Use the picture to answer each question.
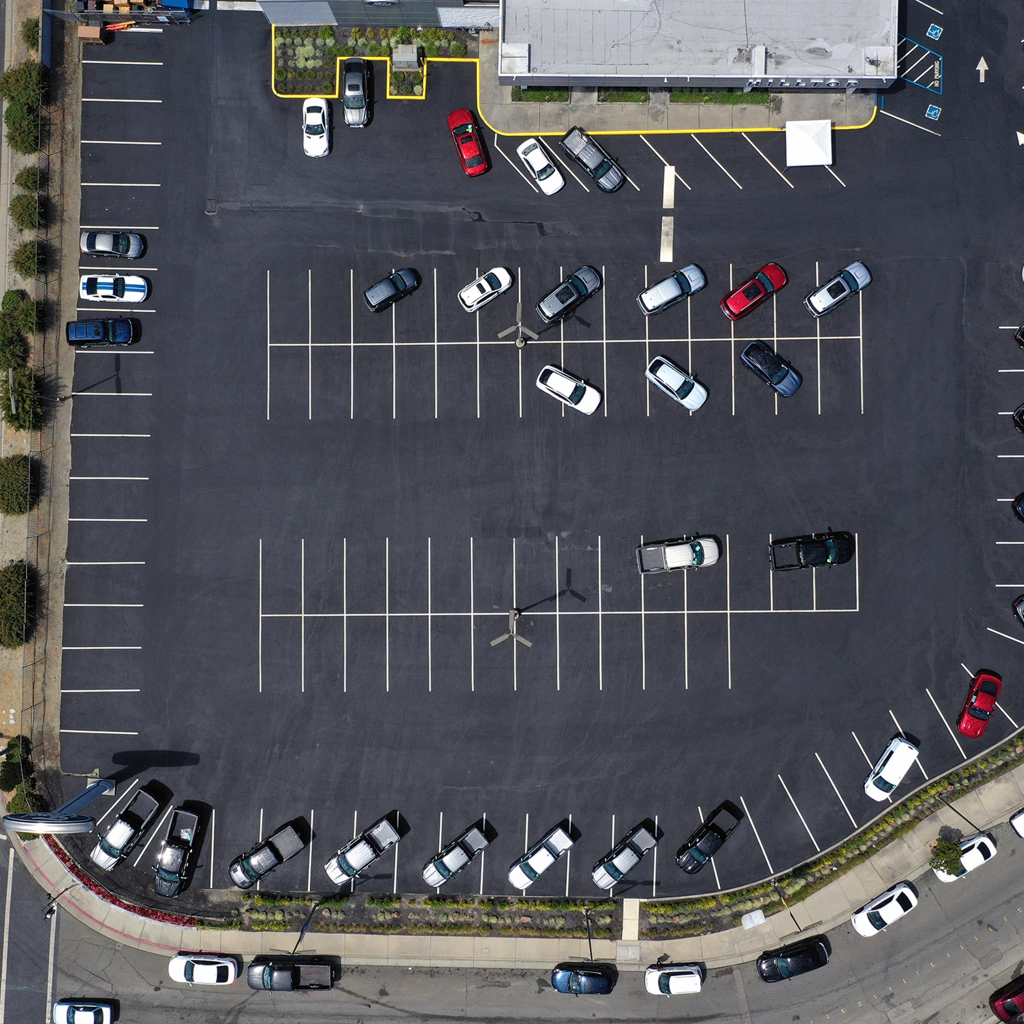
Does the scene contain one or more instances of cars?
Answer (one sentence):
Yes, the picture does show a car.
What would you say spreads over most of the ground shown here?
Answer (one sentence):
Most of the picture is covered by paved ground.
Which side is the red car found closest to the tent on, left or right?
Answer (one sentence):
You can find the red car found closest to the tent on the right side of the picture.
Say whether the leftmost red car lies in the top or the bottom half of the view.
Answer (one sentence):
The leftmost red car is in the top half of the image.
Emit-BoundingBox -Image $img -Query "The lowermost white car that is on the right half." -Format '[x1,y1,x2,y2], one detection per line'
[643,963,702,1001]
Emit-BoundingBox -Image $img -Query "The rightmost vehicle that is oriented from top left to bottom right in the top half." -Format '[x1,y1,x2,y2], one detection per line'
[738,341,799,398]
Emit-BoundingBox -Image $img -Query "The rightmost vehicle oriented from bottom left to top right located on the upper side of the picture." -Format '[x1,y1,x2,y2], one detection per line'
[802,262,871,322]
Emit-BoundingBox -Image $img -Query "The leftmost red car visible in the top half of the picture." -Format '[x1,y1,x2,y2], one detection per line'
[449,109,488,179]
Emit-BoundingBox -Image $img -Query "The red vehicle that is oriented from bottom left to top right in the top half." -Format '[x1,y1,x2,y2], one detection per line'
[718,263,787,323]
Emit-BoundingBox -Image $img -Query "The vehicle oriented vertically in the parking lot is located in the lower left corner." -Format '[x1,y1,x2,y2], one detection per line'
[150,805,202,896]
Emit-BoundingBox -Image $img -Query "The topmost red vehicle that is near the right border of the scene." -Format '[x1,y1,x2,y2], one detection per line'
[957,672,1002,739]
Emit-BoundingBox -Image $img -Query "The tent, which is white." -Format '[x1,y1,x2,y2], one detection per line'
[779,120,832,175]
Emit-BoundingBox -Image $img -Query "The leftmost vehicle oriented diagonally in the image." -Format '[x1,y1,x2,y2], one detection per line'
[91,786,163,870]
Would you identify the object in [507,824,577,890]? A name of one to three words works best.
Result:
truck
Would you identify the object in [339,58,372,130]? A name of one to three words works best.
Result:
car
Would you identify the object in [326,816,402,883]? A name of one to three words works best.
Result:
truck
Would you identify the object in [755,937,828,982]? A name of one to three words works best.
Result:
car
